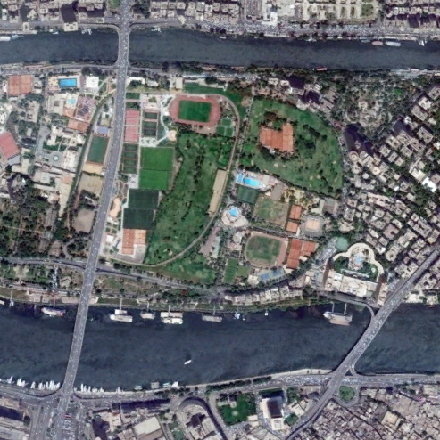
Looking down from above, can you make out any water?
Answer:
Yes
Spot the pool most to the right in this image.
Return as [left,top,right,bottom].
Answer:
[350,249,365,269]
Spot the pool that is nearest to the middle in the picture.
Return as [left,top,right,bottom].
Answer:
[226,206,241,219]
